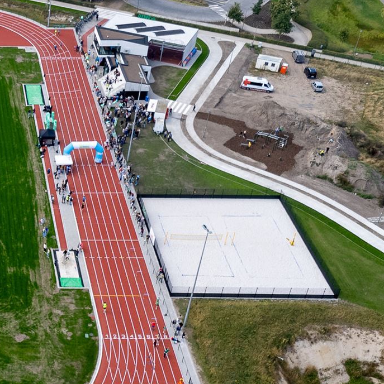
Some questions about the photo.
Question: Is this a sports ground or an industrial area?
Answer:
sports ground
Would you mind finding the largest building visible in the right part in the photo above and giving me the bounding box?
[255,55,283,72]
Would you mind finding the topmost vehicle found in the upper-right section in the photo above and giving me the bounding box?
[293,50,305,62]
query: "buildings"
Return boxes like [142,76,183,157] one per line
[94,13,197,99]
[255,55,283,72]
